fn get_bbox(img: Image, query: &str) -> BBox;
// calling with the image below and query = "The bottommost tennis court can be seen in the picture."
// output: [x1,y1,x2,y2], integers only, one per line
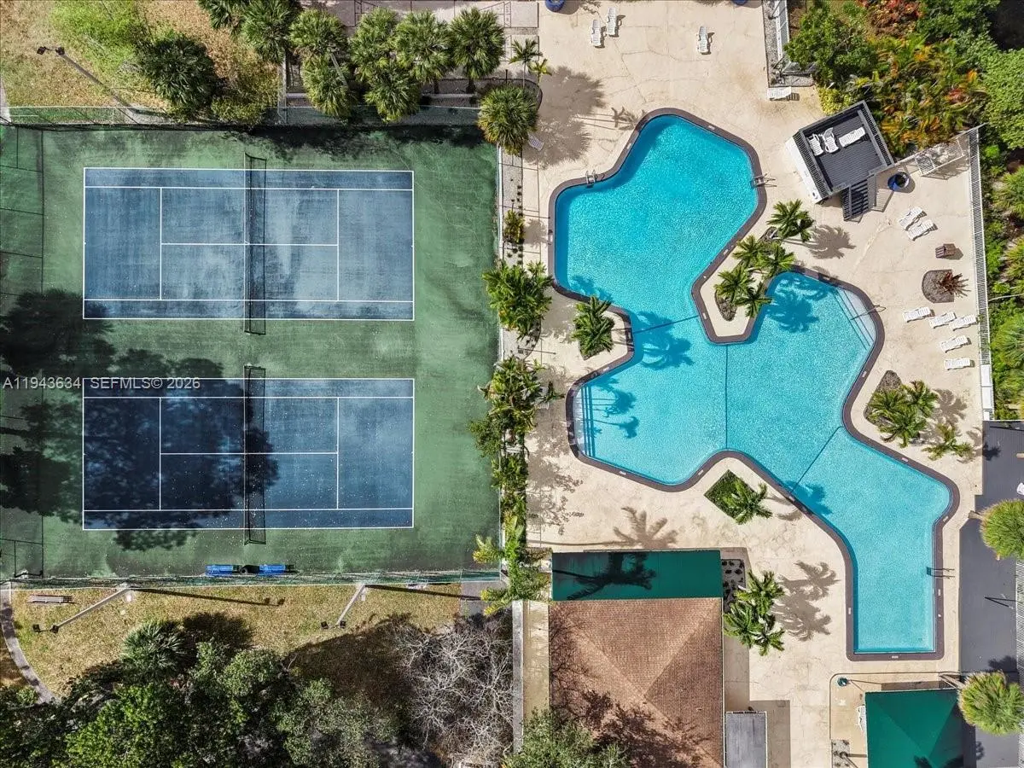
[82,364,414,547]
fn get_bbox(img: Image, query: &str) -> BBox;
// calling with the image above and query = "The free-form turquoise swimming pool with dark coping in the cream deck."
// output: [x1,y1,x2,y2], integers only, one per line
[547,108,958,662]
